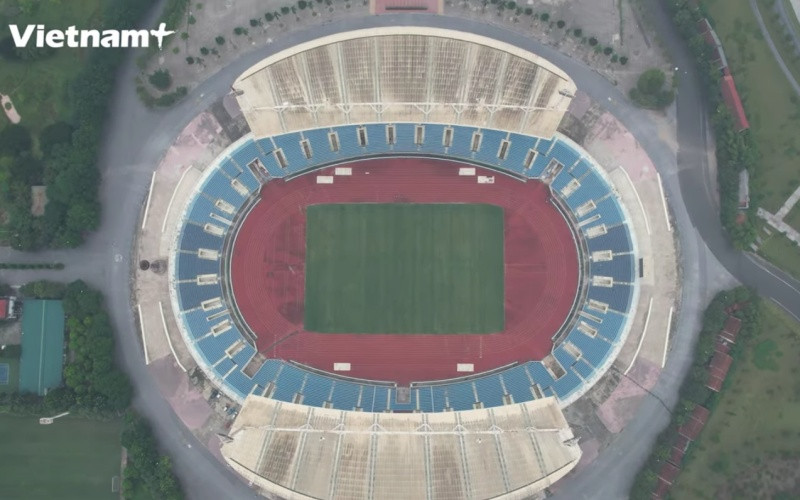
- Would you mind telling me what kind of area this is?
sports ground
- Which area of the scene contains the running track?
center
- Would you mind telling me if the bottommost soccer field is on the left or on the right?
left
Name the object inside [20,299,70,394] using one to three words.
building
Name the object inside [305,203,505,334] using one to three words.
soccer field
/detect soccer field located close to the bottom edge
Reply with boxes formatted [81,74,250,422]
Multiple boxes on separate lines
[0,413,126,500]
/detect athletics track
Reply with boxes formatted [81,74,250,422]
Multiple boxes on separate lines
[232,158,577,386]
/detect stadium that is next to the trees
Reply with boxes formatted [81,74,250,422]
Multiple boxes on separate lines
[169,27,641,500]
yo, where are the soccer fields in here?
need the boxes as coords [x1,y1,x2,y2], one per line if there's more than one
[305,203,505,334]
[0,413,126,500]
